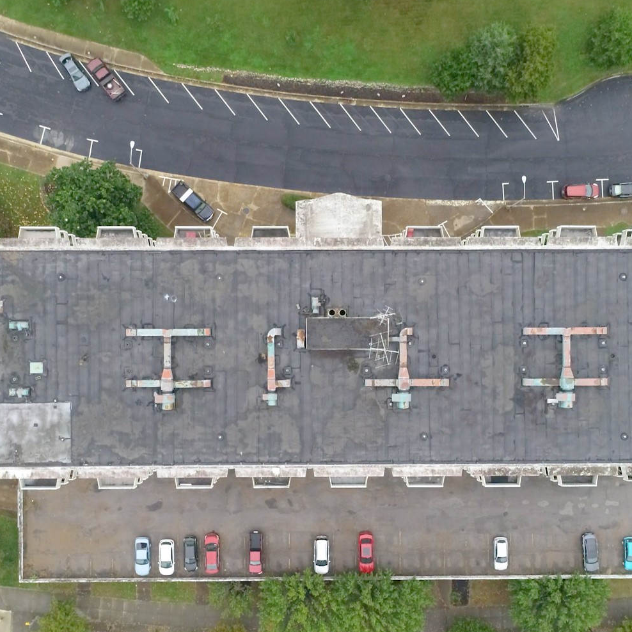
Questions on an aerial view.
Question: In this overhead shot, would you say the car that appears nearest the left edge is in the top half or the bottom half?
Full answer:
The car that appears nearest the left edge is in the top half of the image.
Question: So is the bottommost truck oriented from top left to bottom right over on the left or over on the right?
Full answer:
The bottommost truck oriented from top left to bottom right sits on the left side.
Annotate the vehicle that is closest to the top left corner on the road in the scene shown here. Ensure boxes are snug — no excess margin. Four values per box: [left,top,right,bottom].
[60,53,91,95]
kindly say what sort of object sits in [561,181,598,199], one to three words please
car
